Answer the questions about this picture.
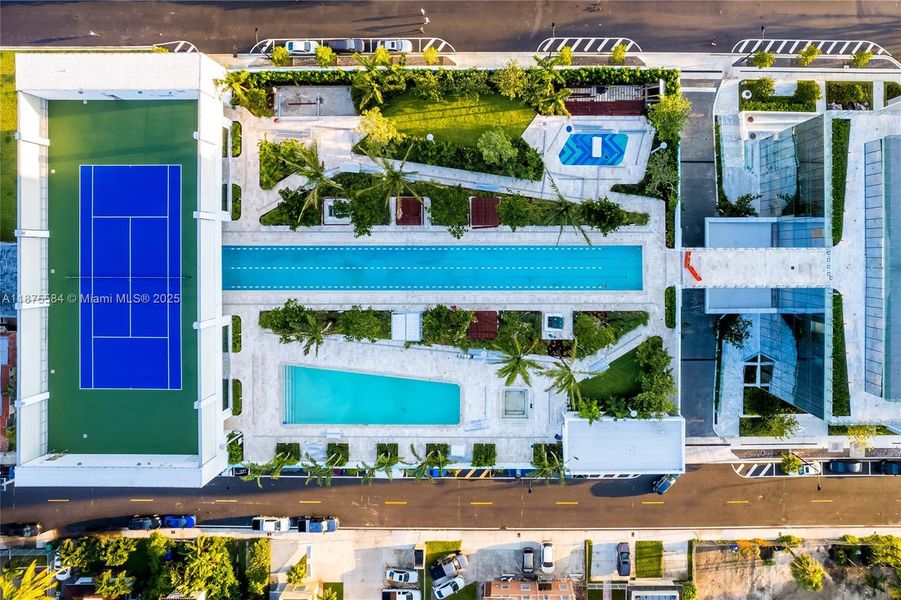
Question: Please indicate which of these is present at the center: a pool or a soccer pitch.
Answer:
pool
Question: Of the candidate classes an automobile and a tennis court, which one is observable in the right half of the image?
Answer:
automobile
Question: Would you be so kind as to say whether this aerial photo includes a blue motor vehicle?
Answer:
Yes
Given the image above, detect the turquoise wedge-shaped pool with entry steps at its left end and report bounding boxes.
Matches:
[282,363,463,428]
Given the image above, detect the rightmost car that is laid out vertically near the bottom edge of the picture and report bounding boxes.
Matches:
[616,540,632,576]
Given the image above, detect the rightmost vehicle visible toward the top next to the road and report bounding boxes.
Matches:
[379,38,414,55]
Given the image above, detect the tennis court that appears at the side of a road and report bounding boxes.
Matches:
[48,99,198,454]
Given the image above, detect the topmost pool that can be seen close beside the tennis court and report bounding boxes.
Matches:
[220,245,643,291]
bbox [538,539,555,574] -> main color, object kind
white car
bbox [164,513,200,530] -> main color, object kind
blue car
